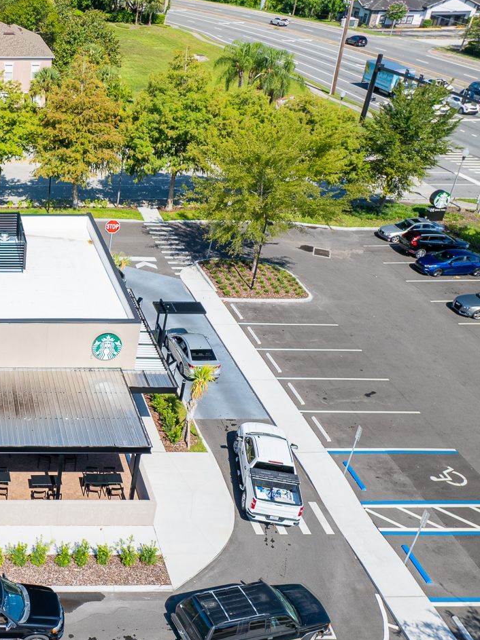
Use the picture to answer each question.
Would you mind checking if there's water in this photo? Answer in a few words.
No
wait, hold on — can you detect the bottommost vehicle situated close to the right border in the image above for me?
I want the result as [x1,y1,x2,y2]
[448,284,480,318]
